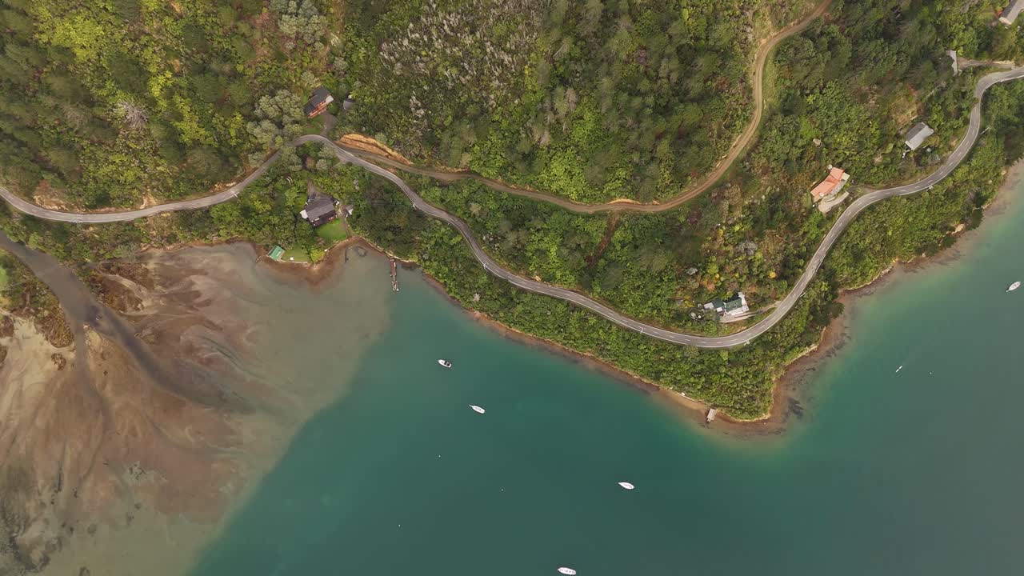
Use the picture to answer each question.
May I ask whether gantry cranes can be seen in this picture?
No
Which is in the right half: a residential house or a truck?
residential house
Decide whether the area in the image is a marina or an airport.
marina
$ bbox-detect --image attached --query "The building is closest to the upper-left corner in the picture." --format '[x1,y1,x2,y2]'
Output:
[303,85,334,122]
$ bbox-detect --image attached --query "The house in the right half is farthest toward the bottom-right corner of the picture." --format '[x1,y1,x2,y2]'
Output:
[703,292,751,322]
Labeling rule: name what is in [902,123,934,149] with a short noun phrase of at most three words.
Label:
house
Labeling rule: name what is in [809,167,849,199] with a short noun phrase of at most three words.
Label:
house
